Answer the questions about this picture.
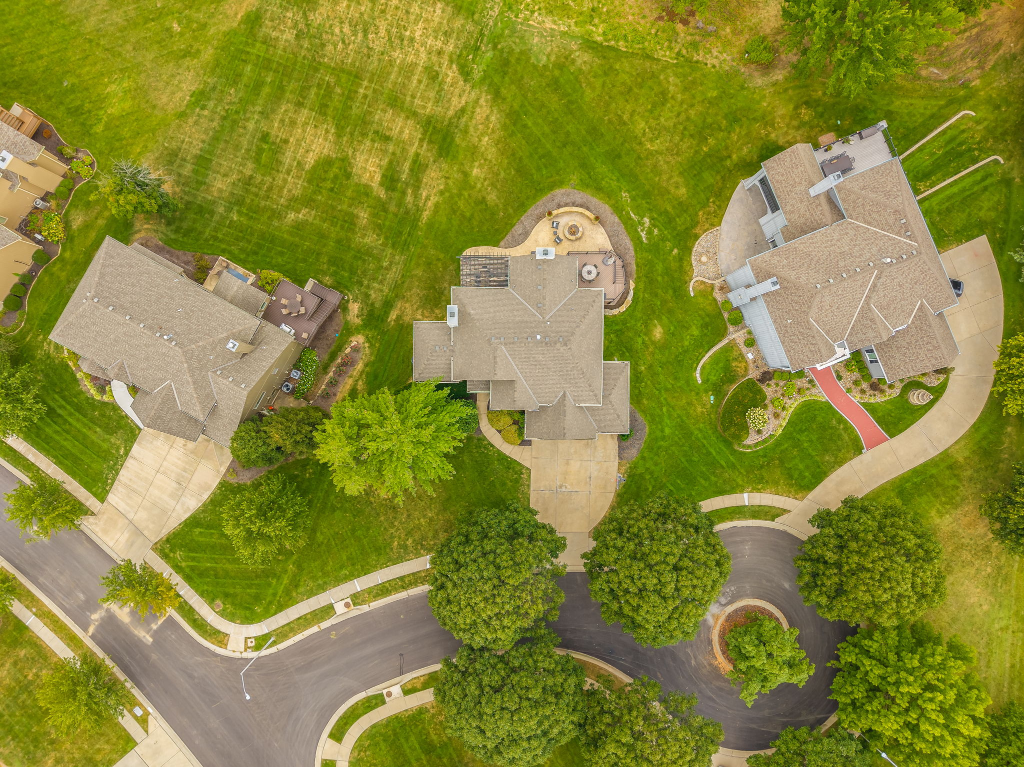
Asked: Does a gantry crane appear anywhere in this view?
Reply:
No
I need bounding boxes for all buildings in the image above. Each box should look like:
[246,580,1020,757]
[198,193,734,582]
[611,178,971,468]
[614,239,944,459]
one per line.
[0,122,70,301]
[412,248,631,441]
[715,143,961,385]
[48,235,301,446]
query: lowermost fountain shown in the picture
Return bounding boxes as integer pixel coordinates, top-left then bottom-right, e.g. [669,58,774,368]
[907,388,933,406]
